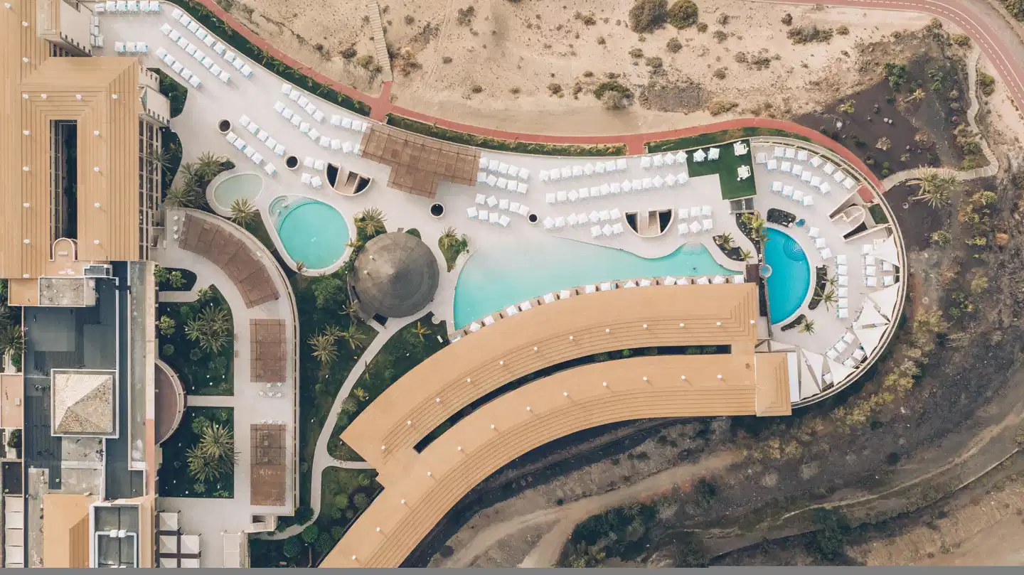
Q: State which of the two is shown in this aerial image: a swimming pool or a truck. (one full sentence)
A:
Looking from above, you can make out a swimming pool.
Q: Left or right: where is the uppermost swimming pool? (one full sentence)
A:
It is on the left.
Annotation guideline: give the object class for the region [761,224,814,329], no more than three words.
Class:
swimming pool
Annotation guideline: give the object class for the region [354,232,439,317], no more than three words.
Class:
shed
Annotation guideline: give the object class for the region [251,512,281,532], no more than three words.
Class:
house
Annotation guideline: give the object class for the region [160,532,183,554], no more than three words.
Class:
tent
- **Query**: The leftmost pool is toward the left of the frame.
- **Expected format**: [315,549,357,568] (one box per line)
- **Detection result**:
[211,171,265,212]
